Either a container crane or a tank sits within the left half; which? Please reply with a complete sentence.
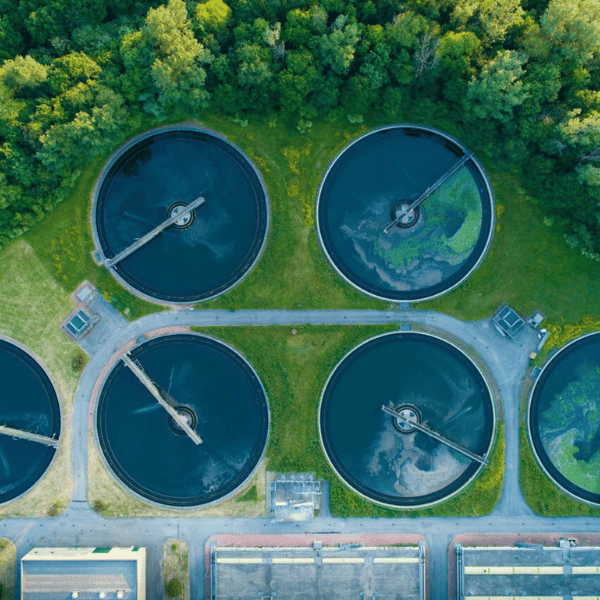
There is a tank within the left half.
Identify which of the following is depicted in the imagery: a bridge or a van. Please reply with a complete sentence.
Of the two, only a bridge appears.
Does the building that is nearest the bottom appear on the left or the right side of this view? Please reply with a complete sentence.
You can find the building that is nearest the bottom on the left side of the picture.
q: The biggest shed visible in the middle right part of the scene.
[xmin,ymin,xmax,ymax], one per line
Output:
[489,304,526,339]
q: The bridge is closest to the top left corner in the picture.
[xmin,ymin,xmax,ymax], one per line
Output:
[103,198,206,267]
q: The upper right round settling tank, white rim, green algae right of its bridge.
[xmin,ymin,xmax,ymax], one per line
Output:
[316,124,495,303]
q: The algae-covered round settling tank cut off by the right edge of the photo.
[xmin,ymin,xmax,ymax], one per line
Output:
[527,332,600,507]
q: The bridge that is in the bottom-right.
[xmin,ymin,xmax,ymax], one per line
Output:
[382,405,492,469]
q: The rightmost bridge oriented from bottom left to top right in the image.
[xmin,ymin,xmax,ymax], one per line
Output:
[384,148,476,233]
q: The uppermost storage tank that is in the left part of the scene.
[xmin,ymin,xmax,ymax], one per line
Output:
[93,127,271,305]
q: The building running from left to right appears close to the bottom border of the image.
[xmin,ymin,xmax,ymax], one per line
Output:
[21,547,146,600]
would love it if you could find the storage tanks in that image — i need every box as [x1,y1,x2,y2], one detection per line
[527,332,600,507]
[318,330,496,509]
[0,336,64,506]
[93,331,272,509]
[316,124,495,303]
[93,127,271,305]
